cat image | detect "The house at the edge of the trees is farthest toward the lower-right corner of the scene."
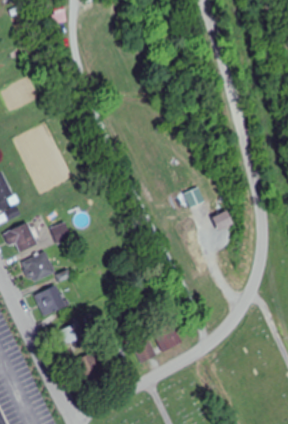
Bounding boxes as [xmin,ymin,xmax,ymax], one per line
[156,330,181,353]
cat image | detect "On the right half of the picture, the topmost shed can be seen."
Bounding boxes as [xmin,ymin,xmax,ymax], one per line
[178,186,204,208]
